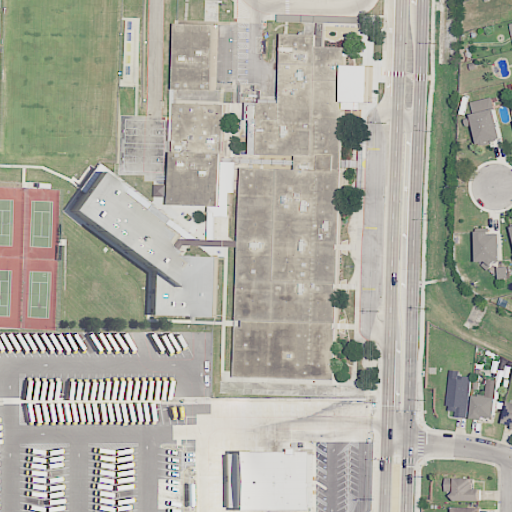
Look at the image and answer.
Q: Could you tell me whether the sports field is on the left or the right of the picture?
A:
left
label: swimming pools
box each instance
[492,58,512,79]
[498,105,512,126]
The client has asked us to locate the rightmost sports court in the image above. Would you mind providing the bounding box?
[120,18,140,87]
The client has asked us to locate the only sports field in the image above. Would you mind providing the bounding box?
[2,0,118,165]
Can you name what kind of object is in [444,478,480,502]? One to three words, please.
house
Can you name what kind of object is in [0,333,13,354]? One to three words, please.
vehicle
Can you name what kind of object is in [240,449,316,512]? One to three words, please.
building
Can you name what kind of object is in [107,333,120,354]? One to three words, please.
vehicle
